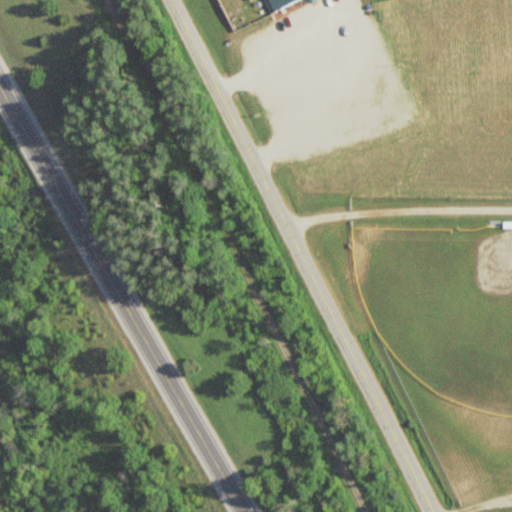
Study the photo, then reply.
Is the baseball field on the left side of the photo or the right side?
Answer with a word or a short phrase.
right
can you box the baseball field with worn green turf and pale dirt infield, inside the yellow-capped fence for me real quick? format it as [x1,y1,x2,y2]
[353,230,512,412]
